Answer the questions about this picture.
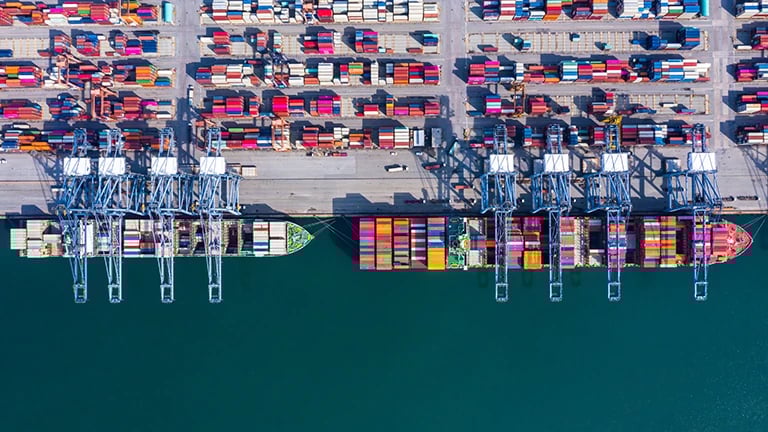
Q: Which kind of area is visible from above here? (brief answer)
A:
port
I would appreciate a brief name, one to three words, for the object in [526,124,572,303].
container crane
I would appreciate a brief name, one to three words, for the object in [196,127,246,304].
container crane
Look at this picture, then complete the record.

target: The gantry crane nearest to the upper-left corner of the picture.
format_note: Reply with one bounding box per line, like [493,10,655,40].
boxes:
[57,55,84,93]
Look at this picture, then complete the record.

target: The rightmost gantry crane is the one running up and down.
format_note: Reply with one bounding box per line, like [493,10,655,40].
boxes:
[656,122,728,302]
